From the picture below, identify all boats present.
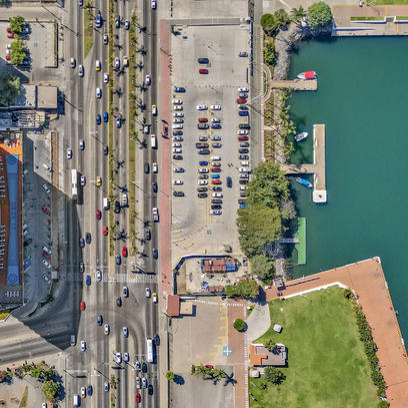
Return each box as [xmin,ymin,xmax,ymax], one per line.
[294,134,309,141]
[296,176,313,186]
[298,72,318,79]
